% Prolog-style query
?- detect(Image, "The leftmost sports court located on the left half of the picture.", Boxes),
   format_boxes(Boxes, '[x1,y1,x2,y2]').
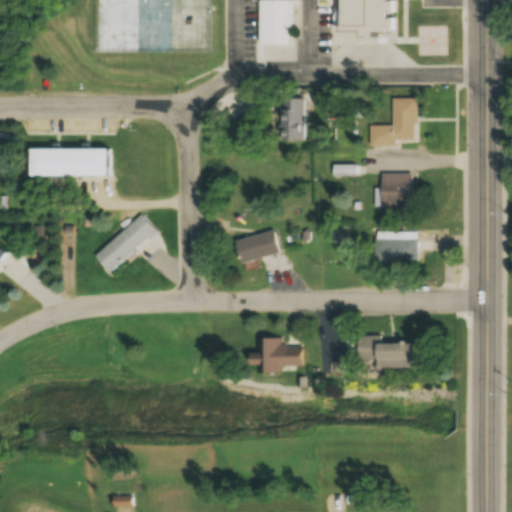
[98,0,138,52]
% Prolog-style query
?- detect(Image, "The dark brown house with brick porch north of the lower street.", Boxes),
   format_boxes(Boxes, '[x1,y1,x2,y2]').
[236,230,280,270]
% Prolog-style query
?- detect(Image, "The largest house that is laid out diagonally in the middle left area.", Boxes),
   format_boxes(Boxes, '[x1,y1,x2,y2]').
[96,212,160,276]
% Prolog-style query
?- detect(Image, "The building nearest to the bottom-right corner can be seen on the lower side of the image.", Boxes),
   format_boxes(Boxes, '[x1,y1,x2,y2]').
[360,334,412,378]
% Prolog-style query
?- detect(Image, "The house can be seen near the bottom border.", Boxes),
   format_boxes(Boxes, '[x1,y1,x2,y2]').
[111,494,136,508]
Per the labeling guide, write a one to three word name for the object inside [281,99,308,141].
house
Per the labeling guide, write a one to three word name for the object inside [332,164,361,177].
shed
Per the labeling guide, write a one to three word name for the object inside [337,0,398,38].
building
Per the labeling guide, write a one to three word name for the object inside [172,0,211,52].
sports court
